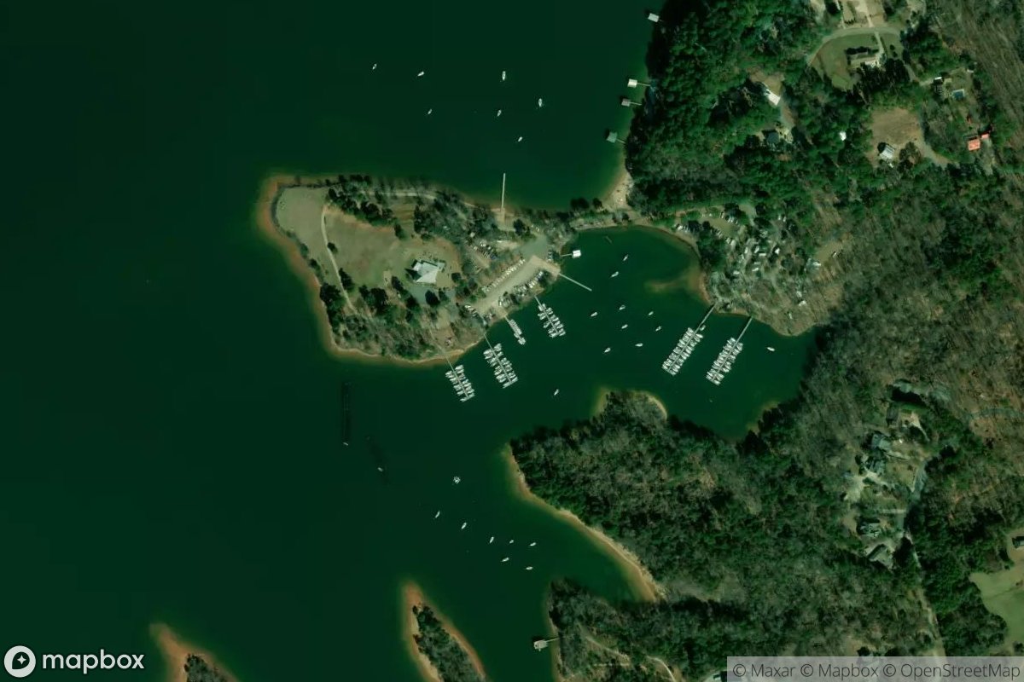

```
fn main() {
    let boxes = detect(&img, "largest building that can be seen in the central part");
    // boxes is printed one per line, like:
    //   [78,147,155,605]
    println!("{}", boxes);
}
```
[417,262,438,282]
